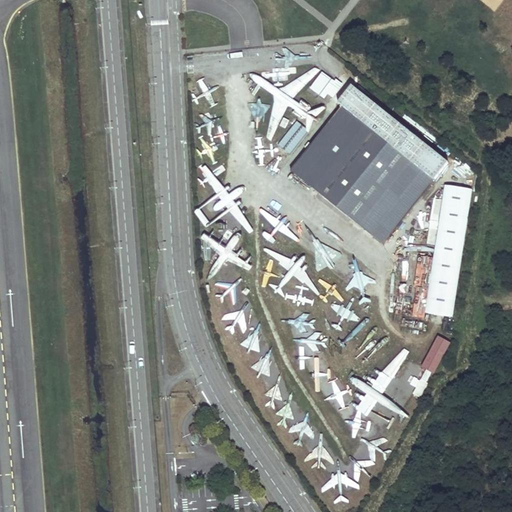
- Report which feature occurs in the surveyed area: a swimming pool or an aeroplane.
aeroplane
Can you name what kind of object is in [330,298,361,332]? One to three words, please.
airplane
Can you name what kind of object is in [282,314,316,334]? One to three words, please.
airplane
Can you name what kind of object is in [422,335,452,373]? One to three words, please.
shed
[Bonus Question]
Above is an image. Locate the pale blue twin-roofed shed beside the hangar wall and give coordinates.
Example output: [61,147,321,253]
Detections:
[278,121,306,152]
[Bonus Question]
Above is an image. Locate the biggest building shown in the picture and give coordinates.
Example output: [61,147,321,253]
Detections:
[290,86,452,244]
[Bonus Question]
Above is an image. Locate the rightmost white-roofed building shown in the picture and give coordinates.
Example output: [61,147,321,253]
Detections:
[426,183,472,317]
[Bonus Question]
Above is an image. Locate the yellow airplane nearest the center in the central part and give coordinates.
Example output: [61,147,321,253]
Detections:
[262,258,280,287]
